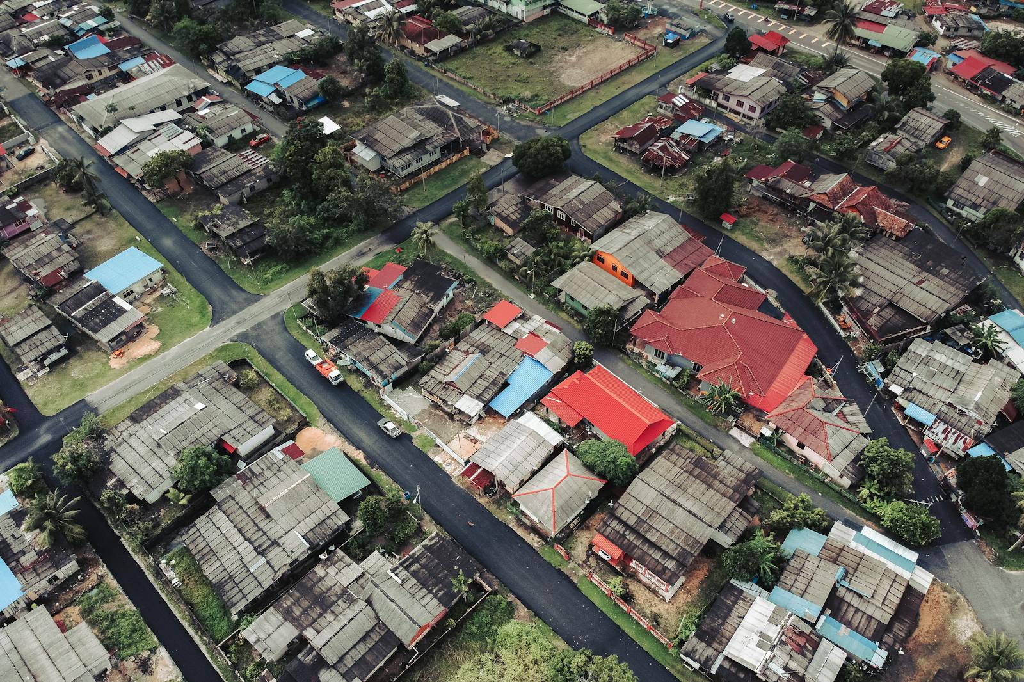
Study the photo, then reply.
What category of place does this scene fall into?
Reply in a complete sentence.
What you see here is a residential area.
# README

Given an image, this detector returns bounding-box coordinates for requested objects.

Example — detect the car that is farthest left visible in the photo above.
[14,145,34,157]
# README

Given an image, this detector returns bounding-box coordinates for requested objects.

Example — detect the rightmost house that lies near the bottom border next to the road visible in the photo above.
[768,521,933,669]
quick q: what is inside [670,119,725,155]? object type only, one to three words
building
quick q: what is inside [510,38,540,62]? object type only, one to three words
shed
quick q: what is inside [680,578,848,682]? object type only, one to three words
house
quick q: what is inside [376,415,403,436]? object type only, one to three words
car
